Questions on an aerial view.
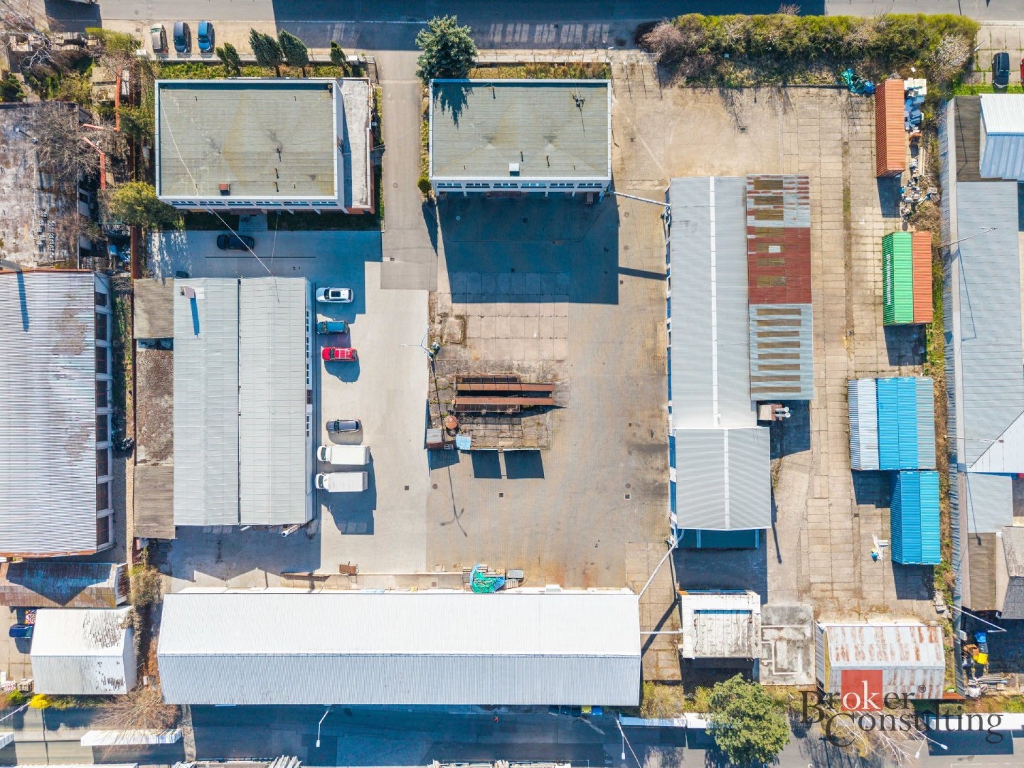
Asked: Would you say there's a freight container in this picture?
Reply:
Yes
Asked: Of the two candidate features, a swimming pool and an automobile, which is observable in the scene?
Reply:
automobile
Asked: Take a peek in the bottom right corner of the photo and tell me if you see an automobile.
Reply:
No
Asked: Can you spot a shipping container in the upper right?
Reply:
Yes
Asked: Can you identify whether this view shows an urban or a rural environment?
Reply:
urban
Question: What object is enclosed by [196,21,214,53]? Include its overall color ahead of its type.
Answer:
blue car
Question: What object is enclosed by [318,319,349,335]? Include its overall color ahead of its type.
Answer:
blue car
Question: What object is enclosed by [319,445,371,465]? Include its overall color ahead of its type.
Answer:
white vehicle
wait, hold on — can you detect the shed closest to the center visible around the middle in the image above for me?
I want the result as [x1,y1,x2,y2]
[425,428,457,452]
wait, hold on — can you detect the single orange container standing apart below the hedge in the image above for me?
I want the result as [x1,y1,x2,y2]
[874,79,906,177]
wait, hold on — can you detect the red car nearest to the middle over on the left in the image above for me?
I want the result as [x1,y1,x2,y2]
[323,346,358,362]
